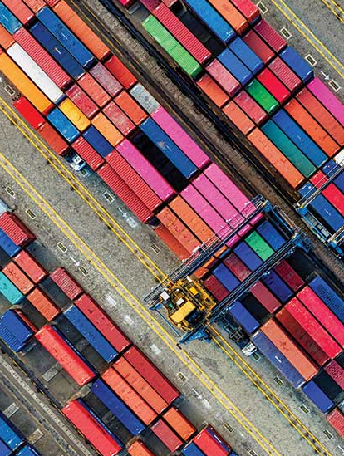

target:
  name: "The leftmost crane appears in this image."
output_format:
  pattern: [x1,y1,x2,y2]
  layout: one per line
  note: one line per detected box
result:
[130,186,310,348]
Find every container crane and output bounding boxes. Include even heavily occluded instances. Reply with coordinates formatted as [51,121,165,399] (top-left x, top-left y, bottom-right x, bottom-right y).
[290,153,344,255]
[130,186,310,348]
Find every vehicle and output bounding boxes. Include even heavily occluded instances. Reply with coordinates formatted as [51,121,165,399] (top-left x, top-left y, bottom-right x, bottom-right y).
[215,307,259,356]
[64,148,87,171]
